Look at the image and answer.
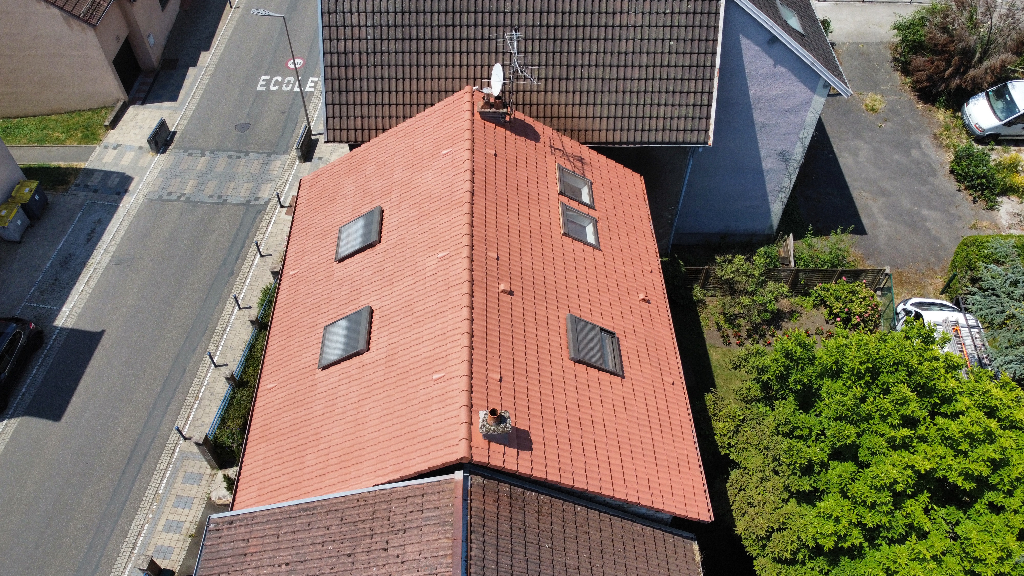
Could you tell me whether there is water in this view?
No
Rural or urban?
urban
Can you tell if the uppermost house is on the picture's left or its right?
left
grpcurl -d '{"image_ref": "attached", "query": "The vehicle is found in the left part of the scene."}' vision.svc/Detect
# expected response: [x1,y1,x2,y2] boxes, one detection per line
[0,319,44,423]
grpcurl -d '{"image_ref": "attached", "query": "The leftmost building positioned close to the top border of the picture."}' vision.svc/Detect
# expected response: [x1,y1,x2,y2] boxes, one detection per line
[0,0,181,117]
